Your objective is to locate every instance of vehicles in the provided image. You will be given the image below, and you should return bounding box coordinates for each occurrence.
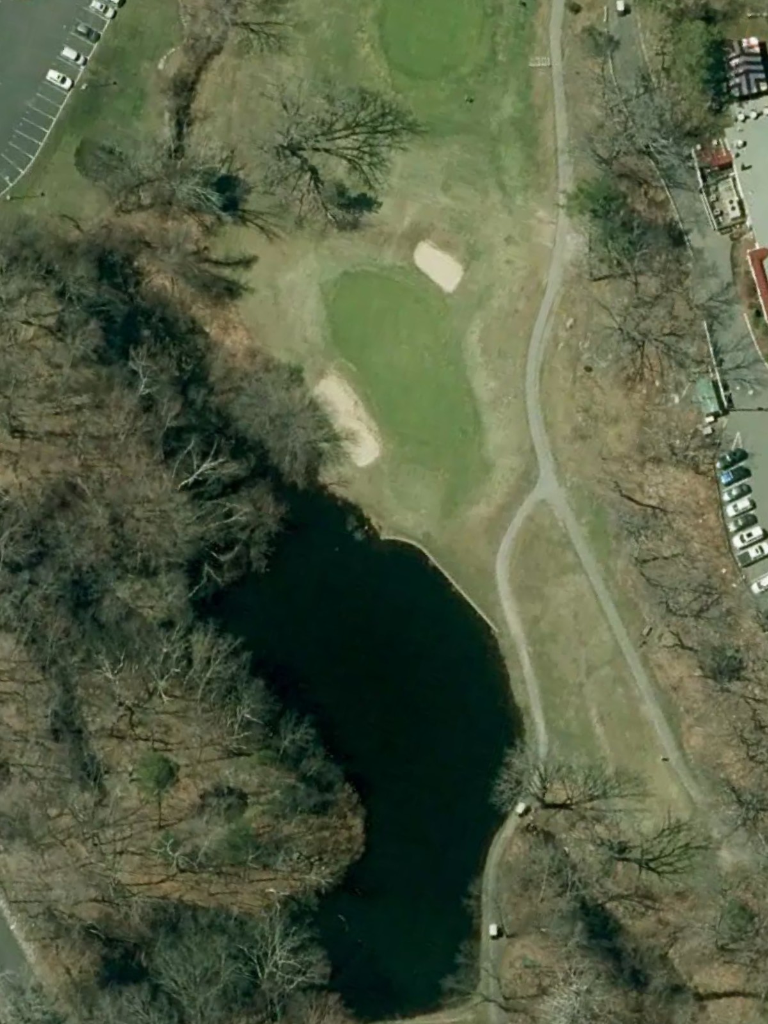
[752,577,768,593]
[718,450,748,469]
[733,528,763,548]
[75,23,102,43]
[723,484,752,503]
[616,1,624,15]
[729,514,758,533]
[88,0,118,19]
[739,543,768,564]
[489,925,497,939]
[44,67,74,90]
[721,466,751,486]
[727,499,756,519]
[516,802,527,818]
[60,45,88,66]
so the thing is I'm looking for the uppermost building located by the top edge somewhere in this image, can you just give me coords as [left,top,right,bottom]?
[727,37,768,102]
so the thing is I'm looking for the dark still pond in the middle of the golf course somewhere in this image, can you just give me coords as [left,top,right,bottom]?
[182,481,523,1023]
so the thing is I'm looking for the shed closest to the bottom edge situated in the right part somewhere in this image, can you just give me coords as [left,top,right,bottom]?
[697,377,720,418]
